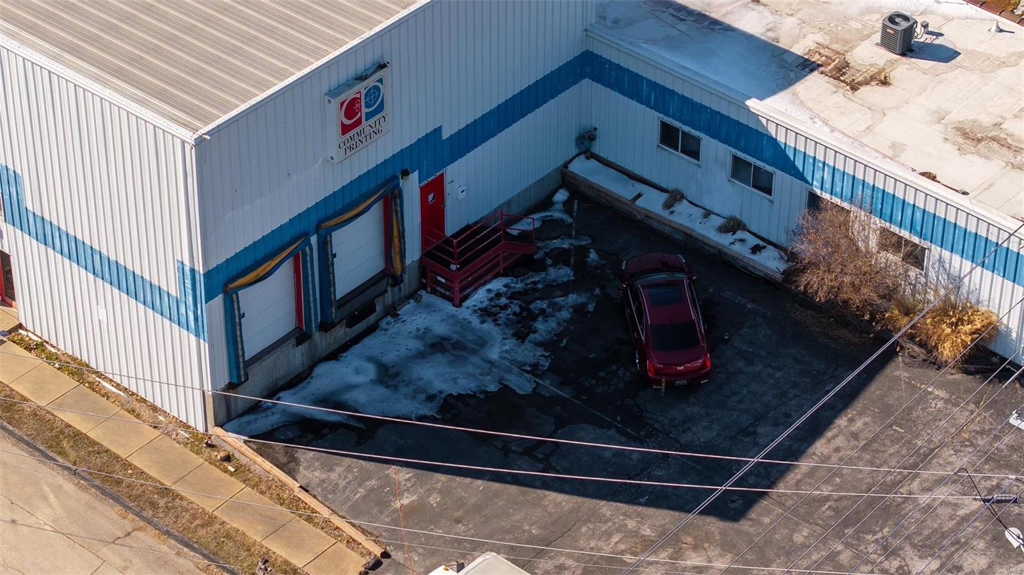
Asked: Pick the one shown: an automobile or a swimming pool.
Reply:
automobile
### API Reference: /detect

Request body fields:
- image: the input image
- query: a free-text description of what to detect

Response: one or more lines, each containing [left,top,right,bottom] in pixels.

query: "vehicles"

[617,253,711,388]
[423,554,523,575]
